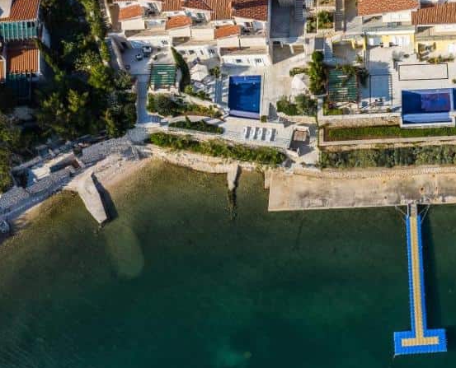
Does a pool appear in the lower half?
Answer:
No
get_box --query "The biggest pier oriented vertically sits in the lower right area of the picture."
[396,200,449,352]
